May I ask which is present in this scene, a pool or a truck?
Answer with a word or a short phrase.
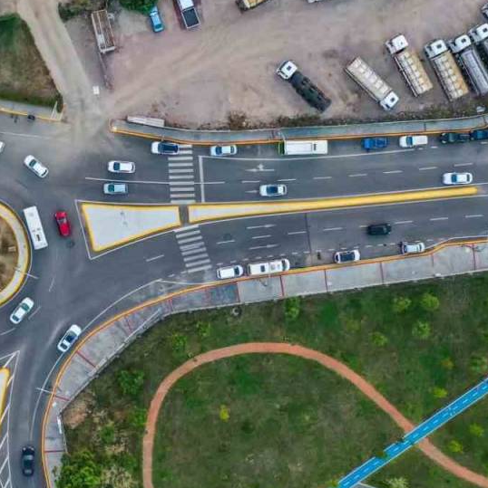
truck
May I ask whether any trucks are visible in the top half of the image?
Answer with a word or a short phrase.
Yes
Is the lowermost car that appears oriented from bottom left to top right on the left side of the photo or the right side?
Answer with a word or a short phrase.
left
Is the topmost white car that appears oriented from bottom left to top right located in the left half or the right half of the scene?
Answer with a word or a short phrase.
left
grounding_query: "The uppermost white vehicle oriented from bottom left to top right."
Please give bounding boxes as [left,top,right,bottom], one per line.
[9,297,35,325]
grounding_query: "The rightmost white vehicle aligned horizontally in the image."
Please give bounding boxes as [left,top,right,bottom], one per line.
[440,171,472,186]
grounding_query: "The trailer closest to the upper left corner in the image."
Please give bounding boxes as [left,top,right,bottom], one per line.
[91,9,117,72]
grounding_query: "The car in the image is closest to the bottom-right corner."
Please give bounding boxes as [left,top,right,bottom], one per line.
[397,240,423,255]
